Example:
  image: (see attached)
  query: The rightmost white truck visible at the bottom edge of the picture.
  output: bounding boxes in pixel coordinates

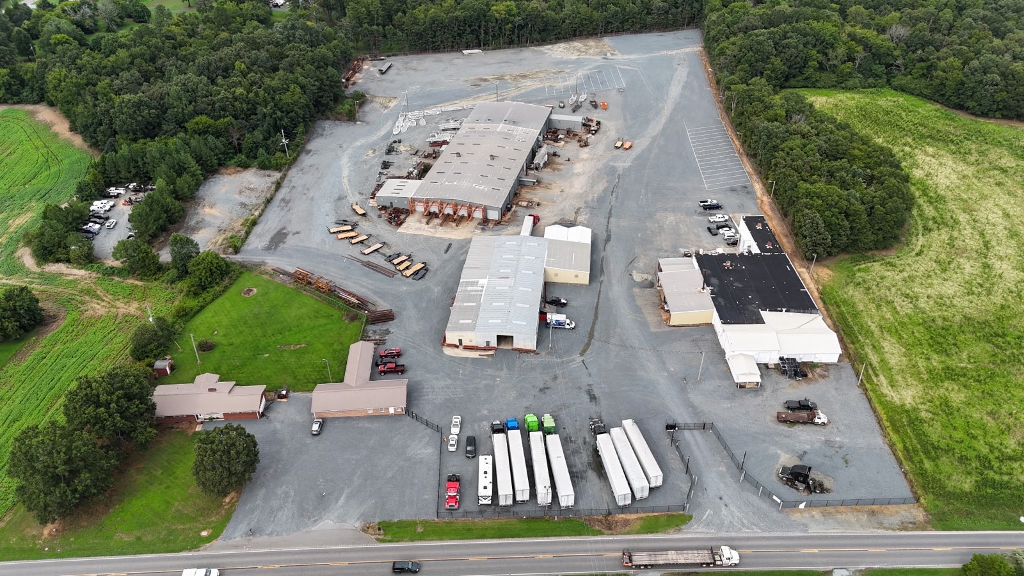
[700,547,740,568]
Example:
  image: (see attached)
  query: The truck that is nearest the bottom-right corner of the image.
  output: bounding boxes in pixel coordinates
[781,468,825,496]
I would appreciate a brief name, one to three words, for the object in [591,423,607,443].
vehicle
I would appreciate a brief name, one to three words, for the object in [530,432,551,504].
trailer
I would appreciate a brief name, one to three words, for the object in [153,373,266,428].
house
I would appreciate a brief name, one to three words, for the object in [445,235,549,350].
building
